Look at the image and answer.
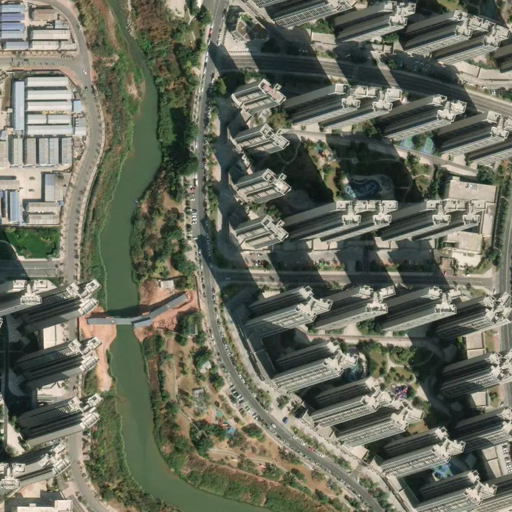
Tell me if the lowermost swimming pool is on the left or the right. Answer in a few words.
right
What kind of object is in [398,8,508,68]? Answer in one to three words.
building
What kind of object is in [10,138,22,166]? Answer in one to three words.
shed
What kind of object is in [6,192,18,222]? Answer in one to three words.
shed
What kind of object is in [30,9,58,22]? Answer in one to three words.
house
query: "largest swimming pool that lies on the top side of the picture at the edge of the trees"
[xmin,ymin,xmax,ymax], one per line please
[343,174,394,202]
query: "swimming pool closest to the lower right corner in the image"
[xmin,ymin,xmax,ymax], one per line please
[342,348,366,382]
